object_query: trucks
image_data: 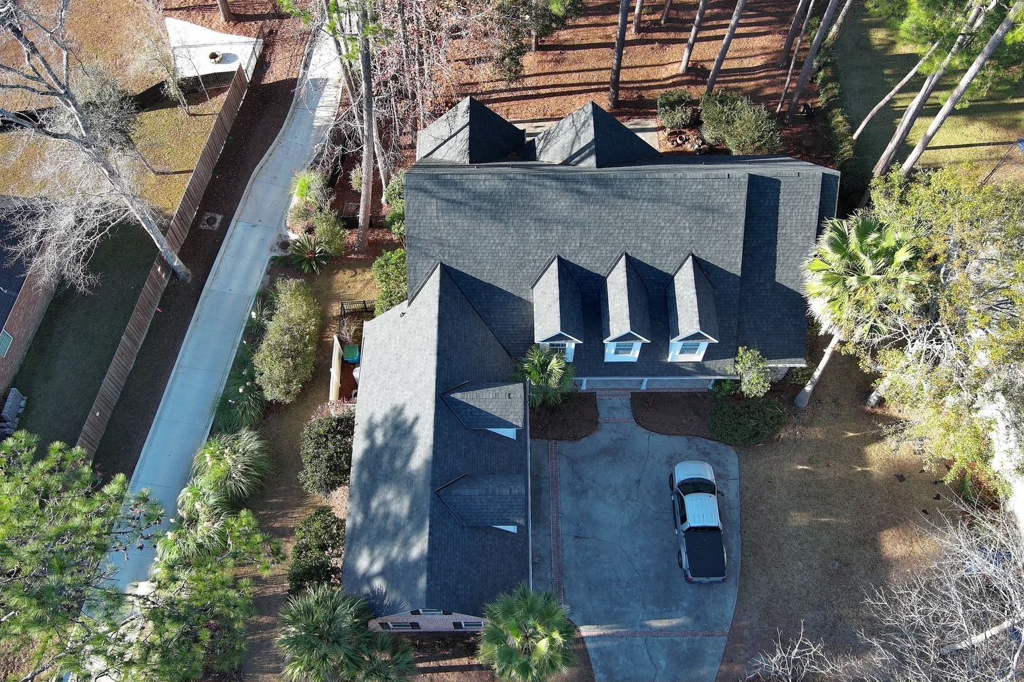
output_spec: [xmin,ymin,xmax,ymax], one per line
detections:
[670,463,727,585]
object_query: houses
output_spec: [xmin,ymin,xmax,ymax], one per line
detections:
[0,177,81,414]
[337,95,840,637]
